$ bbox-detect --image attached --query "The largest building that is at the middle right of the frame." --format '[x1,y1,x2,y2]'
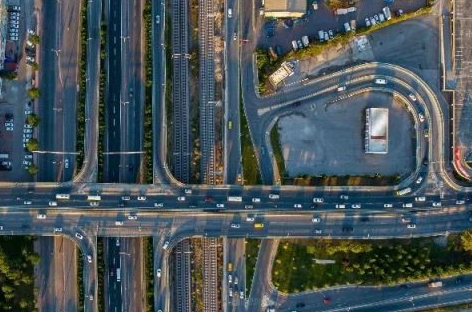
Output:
[362,108,388,154]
